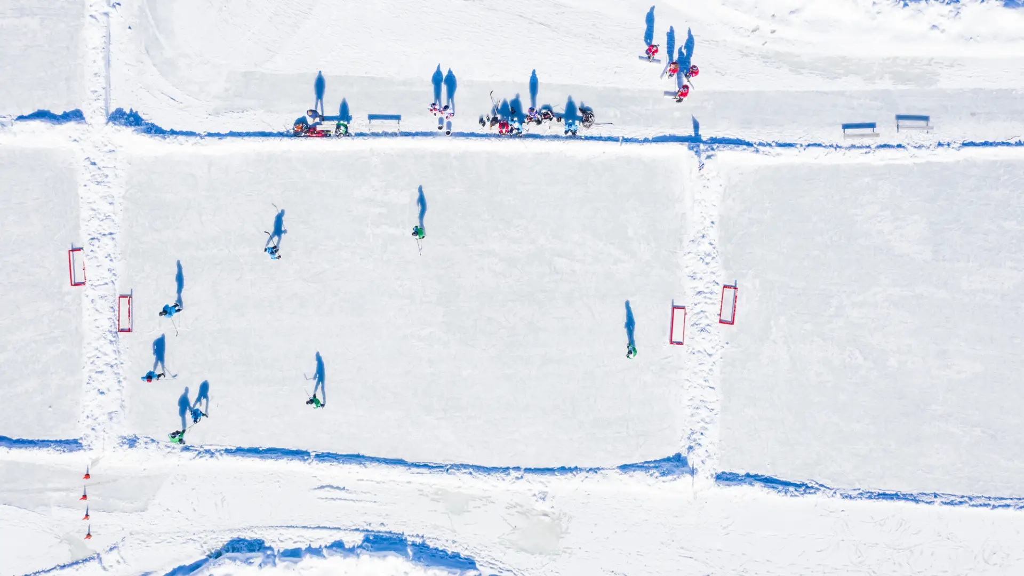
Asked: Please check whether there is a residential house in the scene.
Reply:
No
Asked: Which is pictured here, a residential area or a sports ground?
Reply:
sports ground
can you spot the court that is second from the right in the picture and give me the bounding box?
[116,152,695,468]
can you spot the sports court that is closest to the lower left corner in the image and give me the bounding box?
[0,146,85,443]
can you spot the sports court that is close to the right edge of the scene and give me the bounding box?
[716,159,1024,500]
